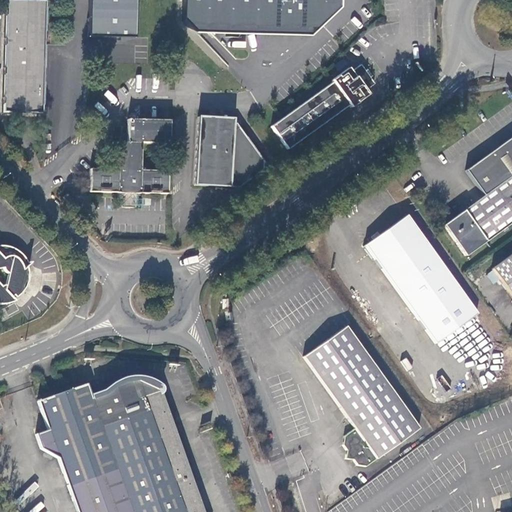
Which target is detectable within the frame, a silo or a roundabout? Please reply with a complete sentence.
The image shows a roundabout.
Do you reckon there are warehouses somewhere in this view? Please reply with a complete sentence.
Yes, the picture does show a warehouse.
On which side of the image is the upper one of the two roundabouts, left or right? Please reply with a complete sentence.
The upper one of the two roundabouts appears in the right half of the scene.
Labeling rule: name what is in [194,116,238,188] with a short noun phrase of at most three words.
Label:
building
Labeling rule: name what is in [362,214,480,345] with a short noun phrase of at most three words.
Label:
warehouse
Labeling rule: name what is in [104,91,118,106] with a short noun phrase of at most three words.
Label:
vehicle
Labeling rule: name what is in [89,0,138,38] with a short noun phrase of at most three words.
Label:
building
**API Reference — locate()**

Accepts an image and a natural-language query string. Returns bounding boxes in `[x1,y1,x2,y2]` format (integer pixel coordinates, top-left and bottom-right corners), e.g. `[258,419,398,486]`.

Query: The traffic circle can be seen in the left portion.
[90,252,196,344]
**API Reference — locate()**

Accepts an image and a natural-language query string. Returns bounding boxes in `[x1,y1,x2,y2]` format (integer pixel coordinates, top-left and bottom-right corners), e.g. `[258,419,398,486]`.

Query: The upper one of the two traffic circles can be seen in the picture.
[440,0,512,84]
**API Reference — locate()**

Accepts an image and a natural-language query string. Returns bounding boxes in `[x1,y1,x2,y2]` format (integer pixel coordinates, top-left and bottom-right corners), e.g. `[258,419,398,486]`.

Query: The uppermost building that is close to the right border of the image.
[464,137,512,194]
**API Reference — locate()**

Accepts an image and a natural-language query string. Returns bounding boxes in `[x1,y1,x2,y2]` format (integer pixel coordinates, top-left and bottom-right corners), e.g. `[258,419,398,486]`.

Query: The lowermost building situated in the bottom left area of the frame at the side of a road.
[33,374,206,512]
